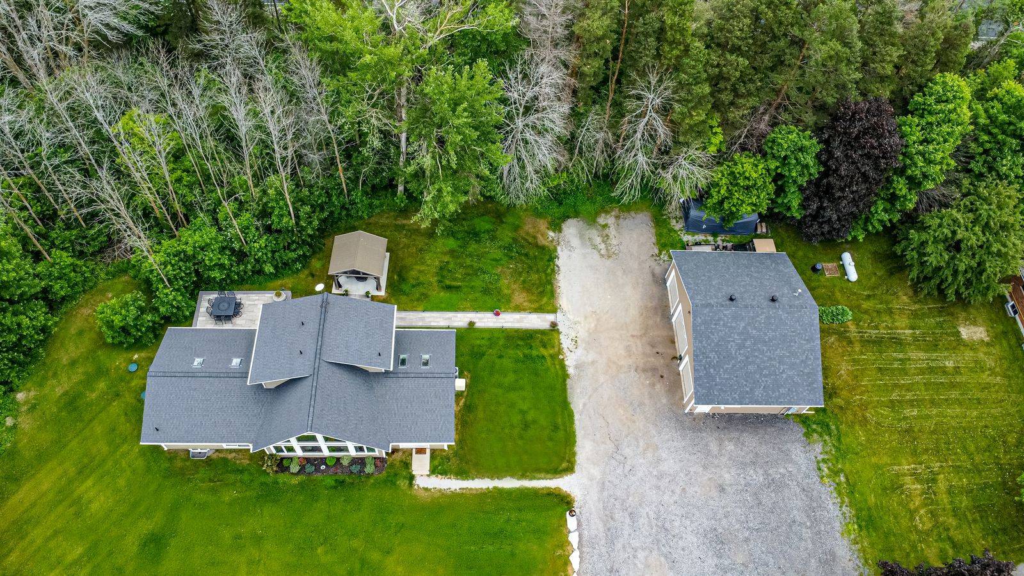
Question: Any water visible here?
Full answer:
No, water can't be seen anywhere here.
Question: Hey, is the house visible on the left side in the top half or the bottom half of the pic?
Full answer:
Seen from above, the house visible on the left side lies in the bottom half of the view.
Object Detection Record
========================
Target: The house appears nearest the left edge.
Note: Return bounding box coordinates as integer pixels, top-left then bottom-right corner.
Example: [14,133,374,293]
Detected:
[141,293,456,458]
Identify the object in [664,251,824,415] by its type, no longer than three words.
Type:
building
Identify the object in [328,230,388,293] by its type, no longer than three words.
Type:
gazebo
